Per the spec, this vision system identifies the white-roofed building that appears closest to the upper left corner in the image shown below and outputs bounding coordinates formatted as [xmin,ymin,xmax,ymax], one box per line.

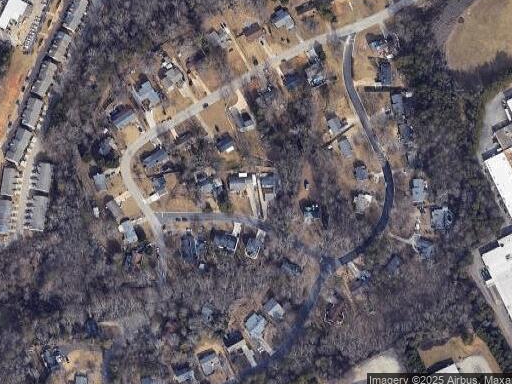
[0,0,28,31]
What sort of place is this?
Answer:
residential area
